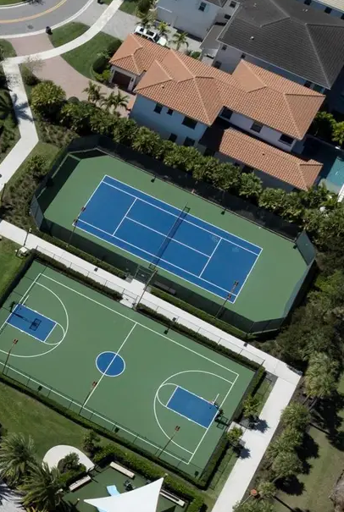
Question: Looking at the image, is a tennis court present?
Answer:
Yes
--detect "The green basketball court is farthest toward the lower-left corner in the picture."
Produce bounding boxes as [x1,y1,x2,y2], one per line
[0,261,255,475]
